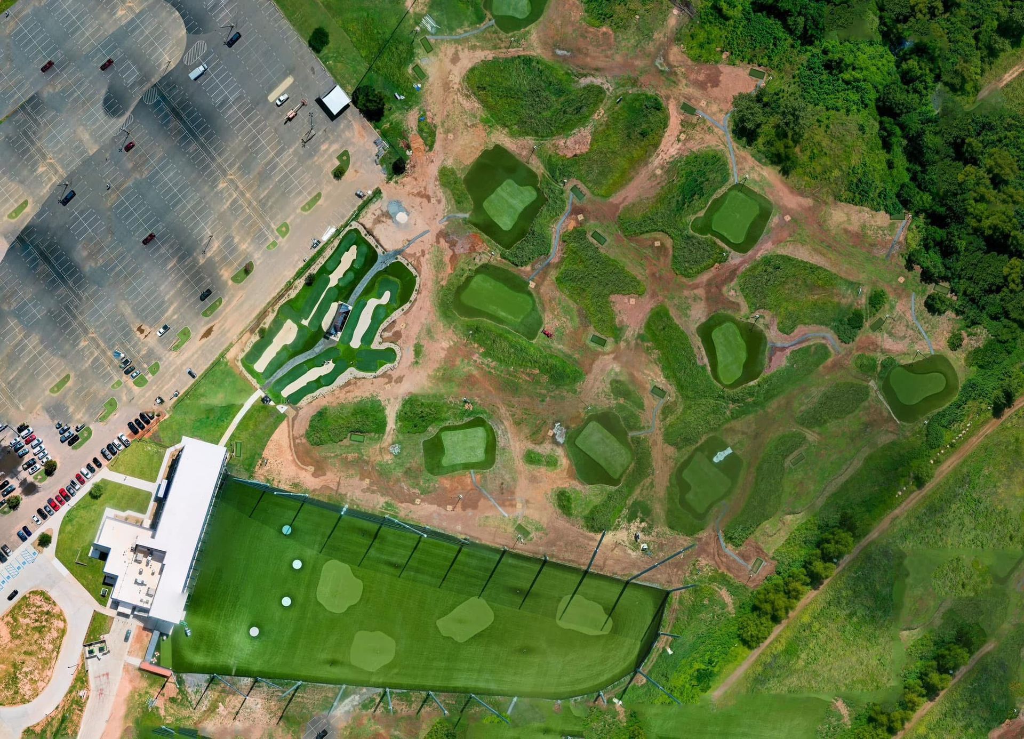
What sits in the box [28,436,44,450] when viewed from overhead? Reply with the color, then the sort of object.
white vehicle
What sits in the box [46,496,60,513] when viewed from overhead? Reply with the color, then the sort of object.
red vehicle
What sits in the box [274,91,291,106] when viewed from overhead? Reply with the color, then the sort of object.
white vehicle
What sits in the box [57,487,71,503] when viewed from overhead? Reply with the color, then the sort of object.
red vehicle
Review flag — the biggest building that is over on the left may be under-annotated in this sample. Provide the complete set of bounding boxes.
[88,436,236,624]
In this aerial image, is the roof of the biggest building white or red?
white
